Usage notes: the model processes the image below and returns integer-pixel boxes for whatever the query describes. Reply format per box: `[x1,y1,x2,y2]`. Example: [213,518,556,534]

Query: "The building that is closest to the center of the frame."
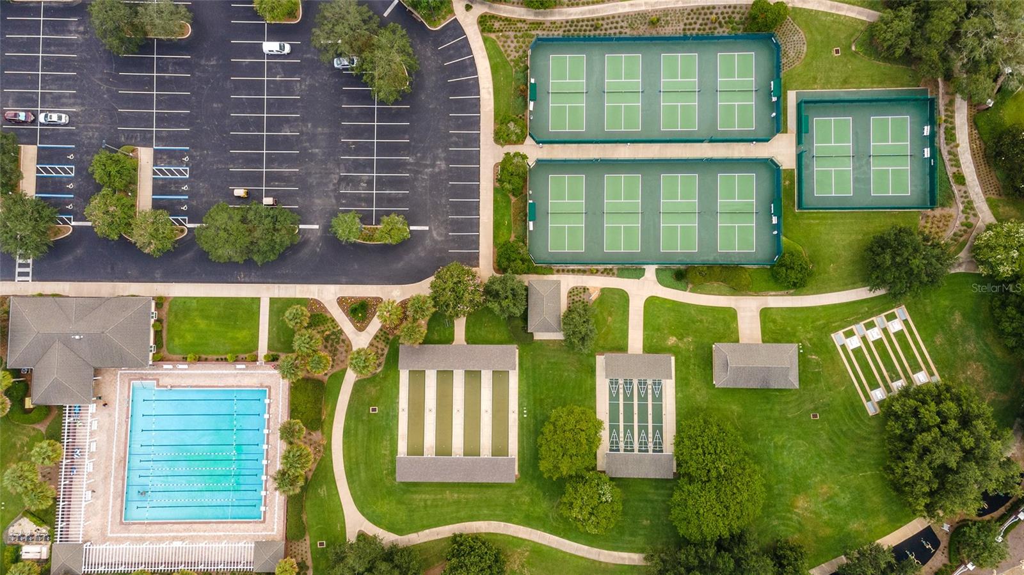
[528,280,561,332]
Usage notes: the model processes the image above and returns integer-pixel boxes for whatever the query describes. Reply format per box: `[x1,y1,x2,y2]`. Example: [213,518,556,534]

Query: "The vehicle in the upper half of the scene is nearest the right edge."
[333,55,355,69]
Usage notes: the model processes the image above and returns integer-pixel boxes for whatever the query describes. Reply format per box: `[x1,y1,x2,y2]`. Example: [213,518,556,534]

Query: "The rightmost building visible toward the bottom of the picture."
[713,343,799,389]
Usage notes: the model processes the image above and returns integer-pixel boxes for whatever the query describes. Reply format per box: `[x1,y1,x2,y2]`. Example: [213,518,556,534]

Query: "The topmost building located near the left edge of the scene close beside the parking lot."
[7,297,158,405]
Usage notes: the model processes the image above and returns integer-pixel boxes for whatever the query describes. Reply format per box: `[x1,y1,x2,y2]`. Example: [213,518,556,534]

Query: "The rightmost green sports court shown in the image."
[869,115,915,195]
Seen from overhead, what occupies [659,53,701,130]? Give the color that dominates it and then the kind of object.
green sports court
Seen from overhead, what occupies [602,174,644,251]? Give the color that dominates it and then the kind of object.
green sports court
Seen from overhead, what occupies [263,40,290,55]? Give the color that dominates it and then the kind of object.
white vehicle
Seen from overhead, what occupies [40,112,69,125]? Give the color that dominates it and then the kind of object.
white vehicle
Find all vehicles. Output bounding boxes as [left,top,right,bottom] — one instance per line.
[333,55,355,69]
[263,197,279,206]
[263,40,290,55]
[5,110,35,124]
[234,188,251,198]
[40,112,69,125]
